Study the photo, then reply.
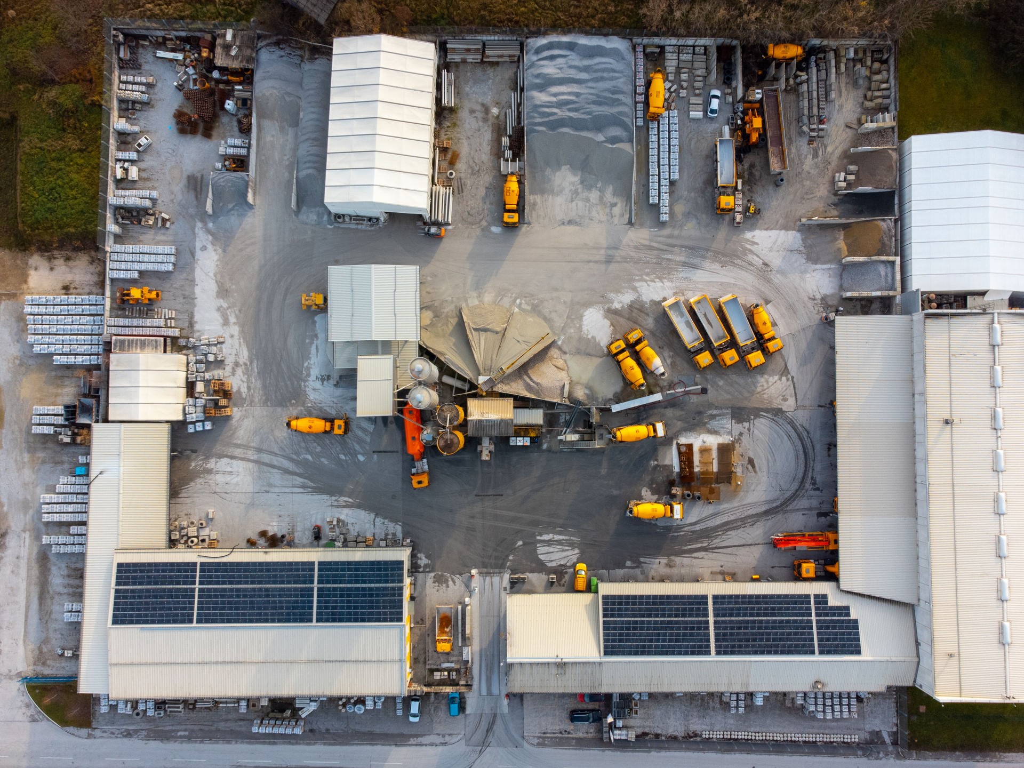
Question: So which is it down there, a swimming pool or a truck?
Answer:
truck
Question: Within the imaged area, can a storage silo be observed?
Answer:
Yes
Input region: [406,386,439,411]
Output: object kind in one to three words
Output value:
silo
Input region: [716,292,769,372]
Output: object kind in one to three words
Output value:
truck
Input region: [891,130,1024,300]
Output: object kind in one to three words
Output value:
building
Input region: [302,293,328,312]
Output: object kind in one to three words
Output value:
work vehicle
